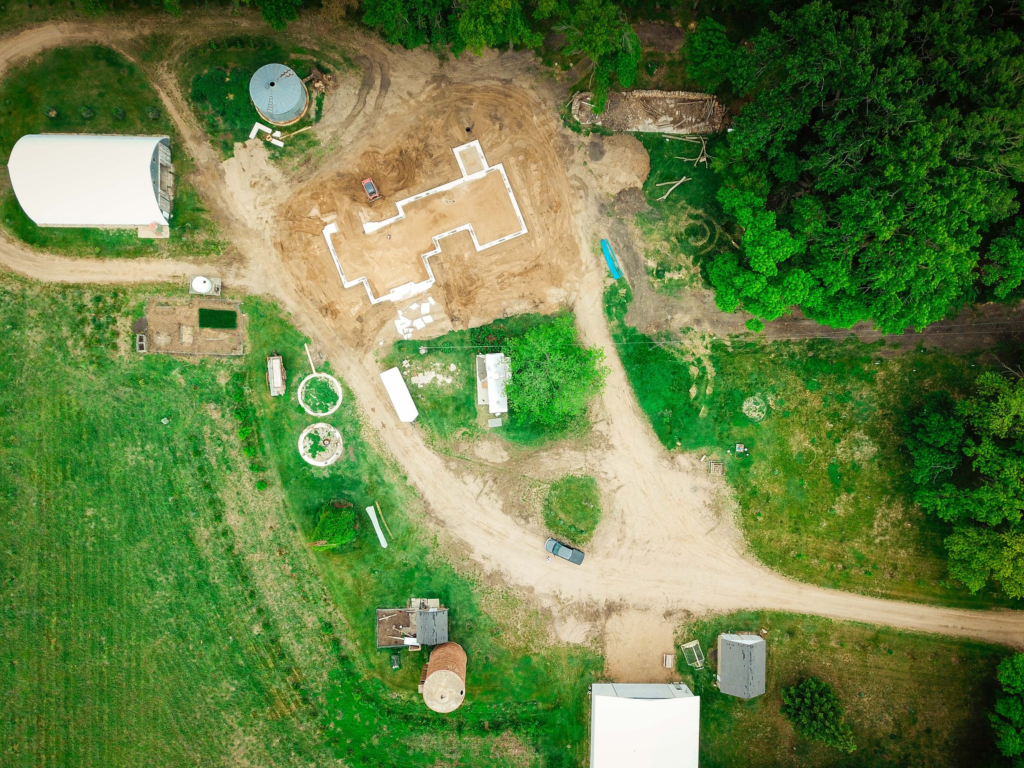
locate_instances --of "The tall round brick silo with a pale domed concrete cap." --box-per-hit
[416,641,467,714]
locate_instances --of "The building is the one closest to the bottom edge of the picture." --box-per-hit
[591,686,700,768]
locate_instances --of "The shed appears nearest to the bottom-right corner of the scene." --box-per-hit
[716,635,766,699]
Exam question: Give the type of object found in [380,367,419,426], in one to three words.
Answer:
trailer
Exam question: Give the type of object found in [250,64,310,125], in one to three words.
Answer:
silo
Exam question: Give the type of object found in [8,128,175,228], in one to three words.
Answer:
barn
